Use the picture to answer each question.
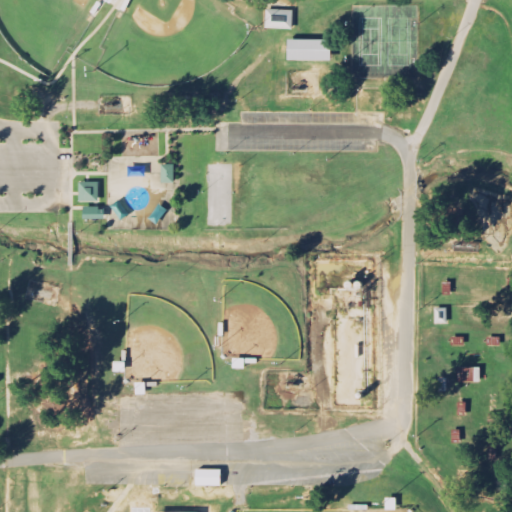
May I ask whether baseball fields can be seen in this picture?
Yes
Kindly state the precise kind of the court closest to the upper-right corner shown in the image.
tennis court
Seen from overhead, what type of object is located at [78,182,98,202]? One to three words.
house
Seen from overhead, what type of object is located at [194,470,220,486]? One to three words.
barn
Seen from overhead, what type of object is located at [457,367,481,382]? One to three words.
house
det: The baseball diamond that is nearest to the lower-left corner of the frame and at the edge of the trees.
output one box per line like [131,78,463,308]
[126,294,212,382]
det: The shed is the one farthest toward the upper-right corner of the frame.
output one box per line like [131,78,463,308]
[287,38,330,60]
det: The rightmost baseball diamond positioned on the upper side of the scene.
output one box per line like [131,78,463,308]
[98,0,248,86]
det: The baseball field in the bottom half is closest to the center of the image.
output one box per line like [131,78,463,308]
[222,280,300,361]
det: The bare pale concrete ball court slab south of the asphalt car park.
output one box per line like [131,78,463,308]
[208,164,232,226]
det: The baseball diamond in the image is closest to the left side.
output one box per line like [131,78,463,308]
[0,0,92,75]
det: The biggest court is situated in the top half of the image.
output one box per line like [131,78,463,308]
[353,5,418,76]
